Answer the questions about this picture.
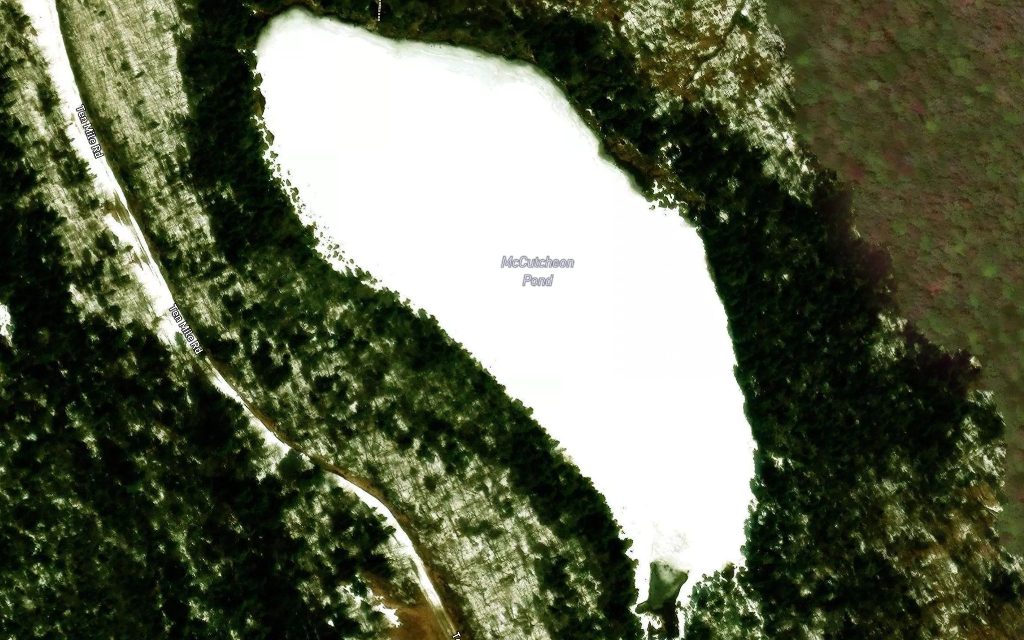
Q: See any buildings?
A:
No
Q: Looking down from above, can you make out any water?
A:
Yes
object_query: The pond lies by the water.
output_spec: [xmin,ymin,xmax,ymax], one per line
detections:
[255,8,756,640]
